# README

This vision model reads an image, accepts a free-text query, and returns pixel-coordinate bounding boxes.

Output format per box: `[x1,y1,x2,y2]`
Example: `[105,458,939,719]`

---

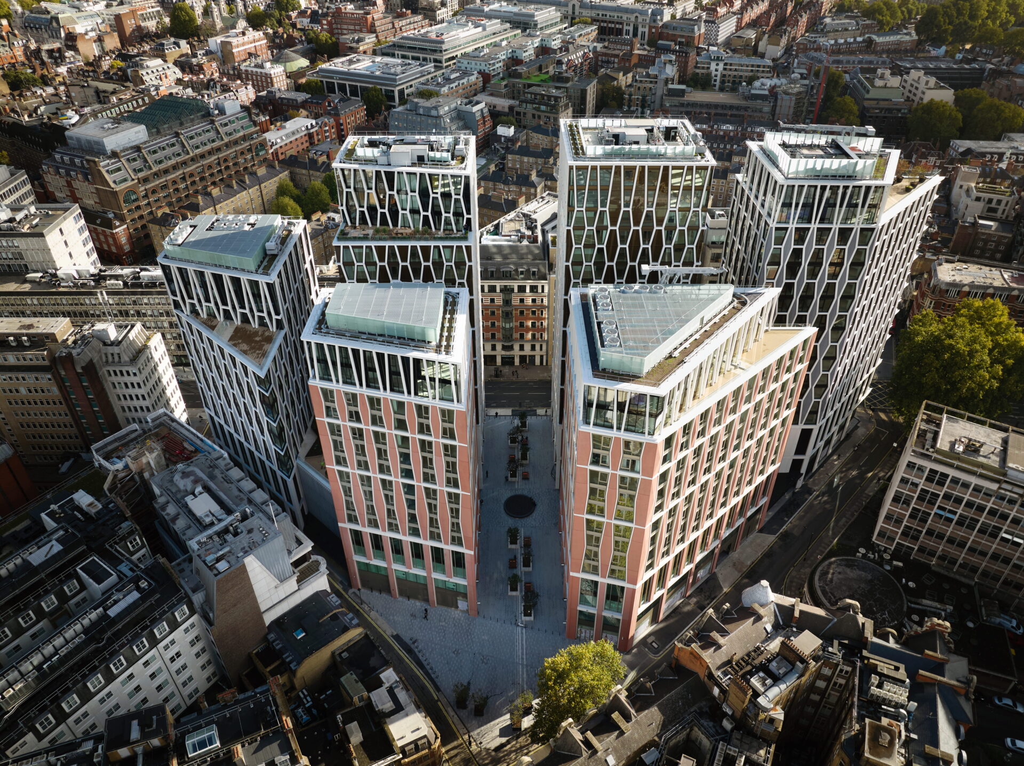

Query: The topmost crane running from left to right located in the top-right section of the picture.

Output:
[780,121,876,156]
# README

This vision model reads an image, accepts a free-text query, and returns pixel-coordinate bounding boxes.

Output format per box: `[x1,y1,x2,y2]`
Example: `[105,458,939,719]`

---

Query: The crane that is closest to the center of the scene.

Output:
[638,262,725,276]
